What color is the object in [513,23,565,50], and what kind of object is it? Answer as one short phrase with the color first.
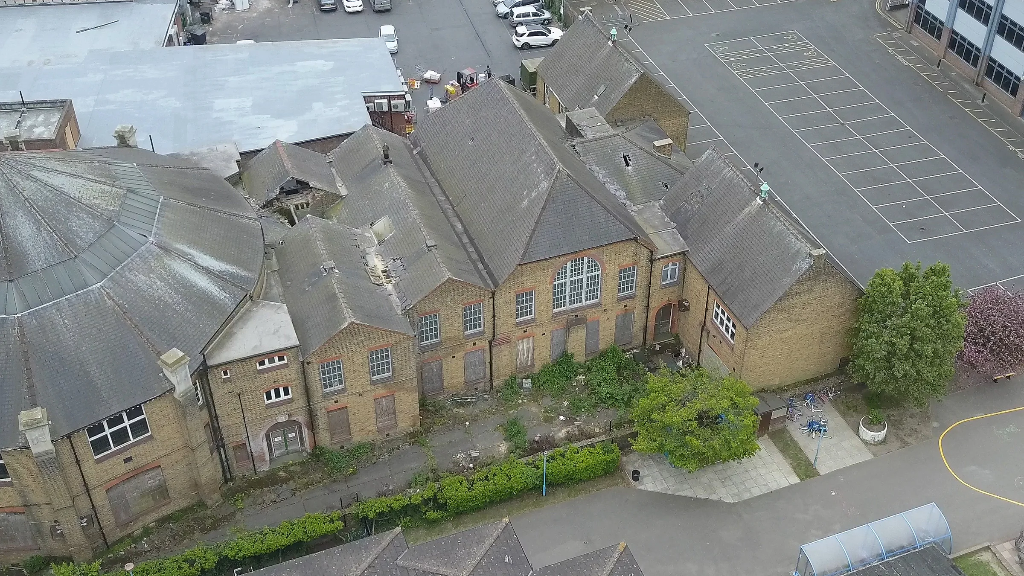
white car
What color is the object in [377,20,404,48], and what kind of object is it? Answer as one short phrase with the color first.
white car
